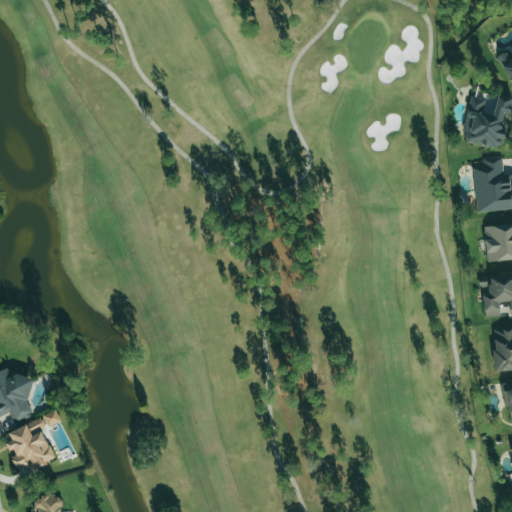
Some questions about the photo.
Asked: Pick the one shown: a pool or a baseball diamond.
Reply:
pool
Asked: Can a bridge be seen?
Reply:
No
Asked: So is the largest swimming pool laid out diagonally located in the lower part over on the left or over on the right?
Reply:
left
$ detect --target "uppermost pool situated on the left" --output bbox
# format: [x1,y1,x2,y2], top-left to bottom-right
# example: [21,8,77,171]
[33,382,45,406]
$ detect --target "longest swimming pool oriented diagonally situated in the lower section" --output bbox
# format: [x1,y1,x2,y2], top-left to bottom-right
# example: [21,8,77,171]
[50,423,75,454]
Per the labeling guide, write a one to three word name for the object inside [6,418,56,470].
house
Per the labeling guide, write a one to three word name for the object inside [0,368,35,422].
house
